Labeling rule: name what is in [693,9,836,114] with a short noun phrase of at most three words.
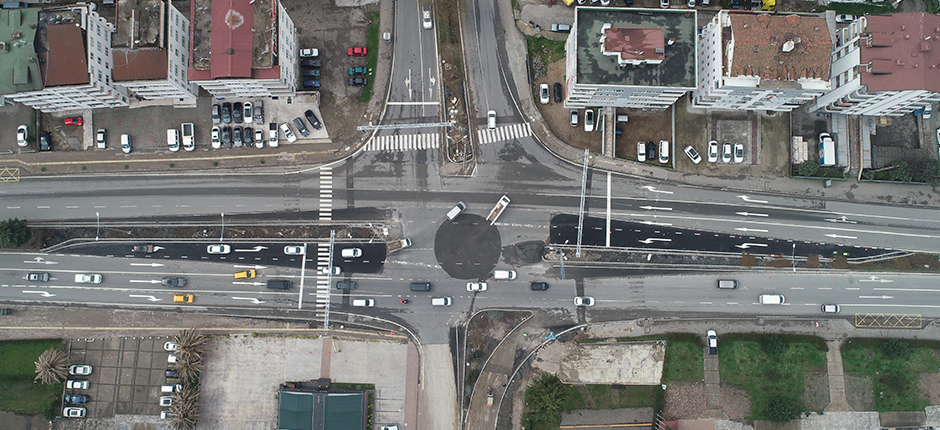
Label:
building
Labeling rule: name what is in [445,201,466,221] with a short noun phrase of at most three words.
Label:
vehicle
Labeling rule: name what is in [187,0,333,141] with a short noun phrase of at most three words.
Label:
building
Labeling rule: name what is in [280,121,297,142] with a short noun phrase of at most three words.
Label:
car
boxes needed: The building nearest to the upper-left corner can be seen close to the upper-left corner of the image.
[0,2,129,118]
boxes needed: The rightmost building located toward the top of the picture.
[811,12,940,118]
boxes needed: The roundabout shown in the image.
[435,218,501,280]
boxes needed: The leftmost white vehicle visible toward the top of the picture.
[17,125,29,146]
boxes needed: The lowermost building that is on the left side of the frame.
[278,375,368,430]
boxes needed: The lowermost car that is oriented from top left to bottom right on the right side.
[683,145,701,164]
